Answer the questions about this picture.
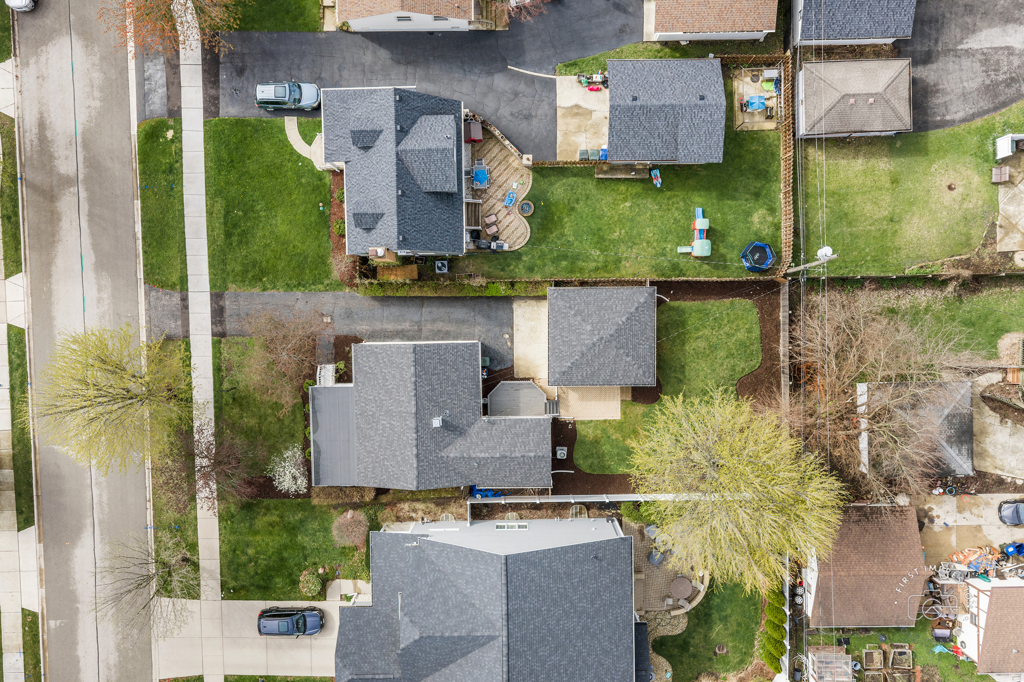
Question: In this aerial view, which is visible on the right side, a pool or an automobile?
automobile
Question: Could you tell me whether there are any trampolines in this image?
Yes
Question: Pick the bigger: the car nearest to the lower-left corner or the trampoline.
the car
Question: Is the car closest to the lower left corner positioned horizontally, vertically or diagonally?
horizontally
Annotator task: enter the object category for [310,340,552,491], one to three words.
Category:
house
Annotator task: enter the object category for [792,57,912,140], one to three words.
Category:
building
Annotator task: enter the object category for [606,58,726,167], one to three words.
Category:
building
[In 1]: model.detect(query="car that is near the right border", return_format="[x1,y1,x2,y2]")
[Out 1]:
[995,498,1024,530]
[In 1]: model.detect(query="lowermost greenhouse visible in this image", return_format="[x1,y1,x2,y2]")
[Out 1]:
[805,642,852,682]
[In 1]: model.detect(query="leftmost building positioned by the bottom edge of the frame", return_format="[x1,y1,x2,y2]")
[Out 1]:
[336,518,649,682]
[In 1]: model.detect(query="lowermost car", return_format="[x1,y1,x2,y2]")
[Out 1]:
[256,605,325,640]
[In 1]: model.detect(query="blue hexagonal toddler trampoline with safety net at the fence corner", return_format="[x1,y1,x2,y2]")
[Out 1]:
[742,240,782,273]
